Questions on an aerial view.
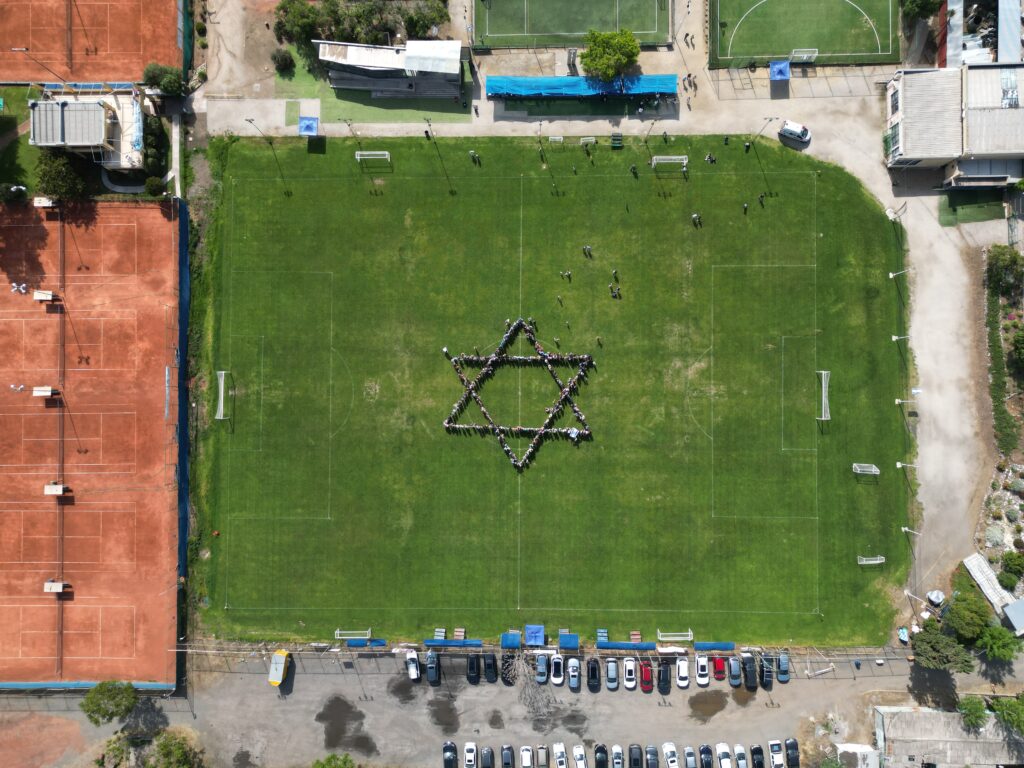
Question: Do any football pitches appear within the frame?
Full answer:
Yes, the frame does contain a football pitch.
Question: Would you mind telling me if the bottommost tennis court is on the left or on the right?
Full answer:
You can find the bottommost tennis court on the left side of the picture.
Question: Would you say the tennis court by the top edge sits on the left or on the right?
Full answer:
You can find the tennis court by the top edge on the left side of the picture.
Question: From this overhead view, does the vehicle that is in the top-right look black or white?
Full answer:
The color of the vehicle that is in the top-right is white.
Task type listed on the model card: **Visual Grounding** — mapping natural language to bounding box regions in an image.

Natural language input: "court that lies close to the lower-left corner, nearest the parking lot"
[0,581,179,685]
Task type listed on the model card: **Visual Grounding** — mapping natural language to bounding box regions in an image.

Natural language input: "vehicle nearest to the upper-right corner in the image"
[780,117,814,142]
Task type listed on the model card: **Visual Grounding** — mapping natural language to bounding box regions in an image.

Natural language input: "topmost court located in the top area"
[0,0,190,86]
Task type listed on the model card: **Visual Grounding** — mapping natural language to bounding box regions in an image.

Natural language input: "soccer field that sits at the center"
[199,133,915,645]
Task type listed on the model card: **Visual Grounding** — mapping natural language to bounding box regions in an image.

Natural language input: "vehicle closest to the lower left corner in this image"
[265,650,288,689]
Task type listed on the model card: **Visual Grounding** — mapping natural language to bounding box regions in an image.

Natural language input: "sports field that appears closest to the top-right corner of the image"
[710,0,899,67]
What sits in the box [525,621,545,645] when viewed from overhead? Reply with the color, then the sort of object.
blue gazebo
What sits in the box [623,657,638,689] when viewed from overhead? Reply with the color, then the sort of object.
white car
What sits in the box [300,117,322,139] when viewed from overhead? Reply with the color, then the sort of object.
blue gazebo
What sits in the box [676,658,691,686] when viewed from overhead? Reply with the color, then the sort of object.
white car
